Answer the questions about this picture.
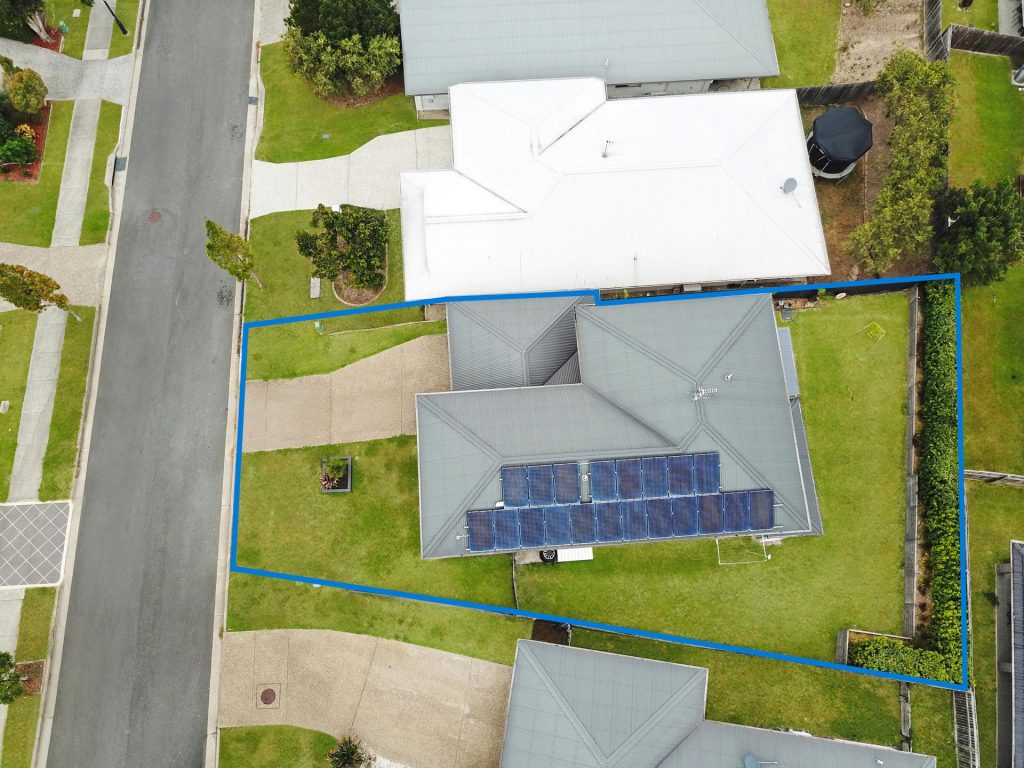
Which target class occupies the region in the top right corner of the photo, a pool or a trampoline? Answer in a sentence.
What appears in the top right corner of the photo is a trampoline.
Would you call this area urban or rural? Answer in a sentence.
It looks urban.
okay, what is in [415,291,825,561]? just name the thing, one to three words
house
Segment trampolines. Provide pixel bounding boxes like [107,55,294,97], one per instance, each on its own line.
[808,110,874,188]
